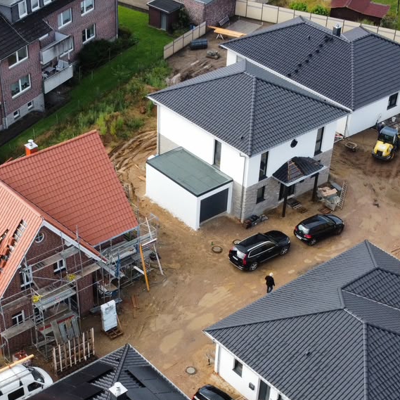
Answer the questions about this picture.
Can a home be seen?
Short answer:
Yes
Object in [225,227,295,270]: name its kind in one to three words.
car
